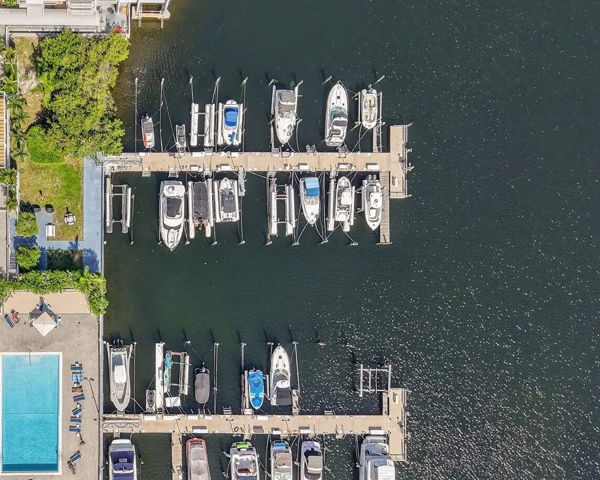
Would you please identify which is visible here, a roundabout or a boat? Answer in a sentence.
It is a boat that can be seen here.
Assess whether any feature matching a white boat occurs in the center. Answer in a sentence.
Yes, a white boat can be seen in the center.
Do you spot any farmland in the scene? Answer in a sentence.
No, farmland can't be seen anywhere here.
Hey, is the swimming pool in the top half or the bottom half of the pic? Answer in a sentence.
The swimming pool sits in the bottom half of the picture.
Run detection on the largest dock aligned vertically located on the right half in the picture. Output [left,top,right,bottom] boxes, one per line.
[378,172,391,243]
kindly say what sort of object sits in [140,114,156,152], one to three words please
boat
